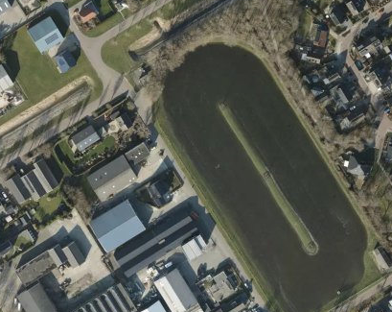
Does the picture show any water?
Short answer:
Yes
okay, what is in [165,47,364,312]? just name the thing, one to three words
pond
